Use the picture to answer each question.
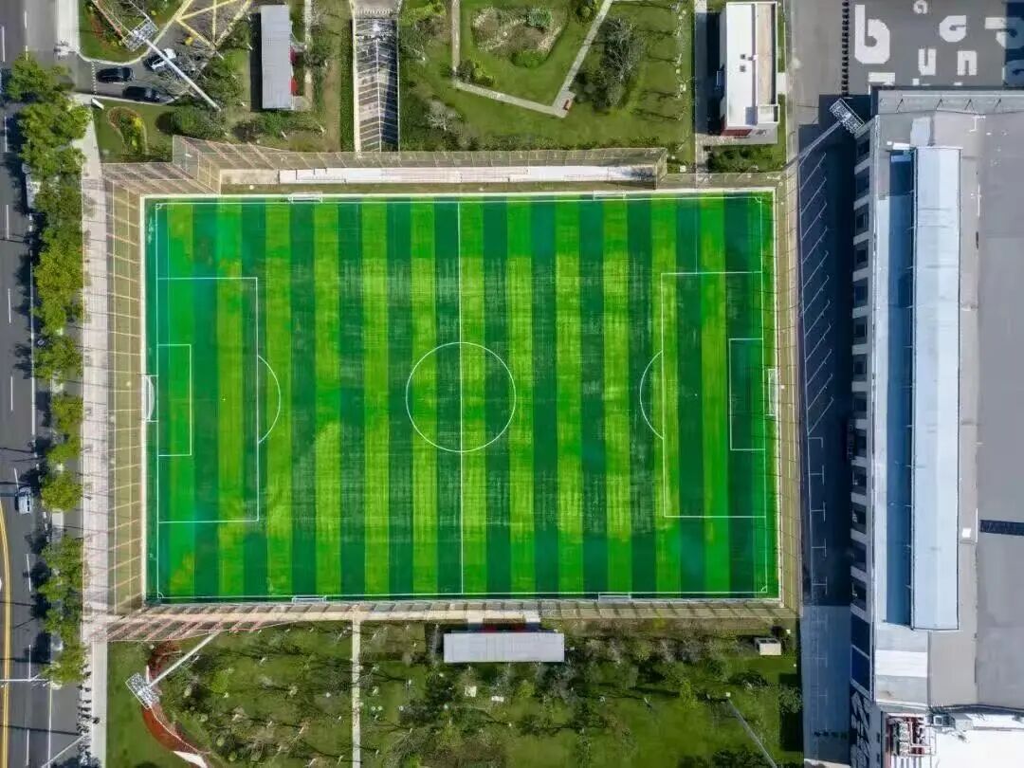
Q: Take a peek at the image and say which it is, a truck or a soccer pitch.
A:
soccer pitch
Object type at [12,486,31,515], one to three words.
car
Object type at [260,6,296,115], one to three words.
shed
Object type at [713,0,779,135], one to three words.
building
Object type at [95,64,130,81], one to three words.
car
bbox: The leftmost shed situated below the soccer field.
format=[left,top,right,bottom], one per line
[444,627,564,662]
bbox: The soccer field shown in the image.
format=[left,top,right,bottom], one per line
[140,187,782,607]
